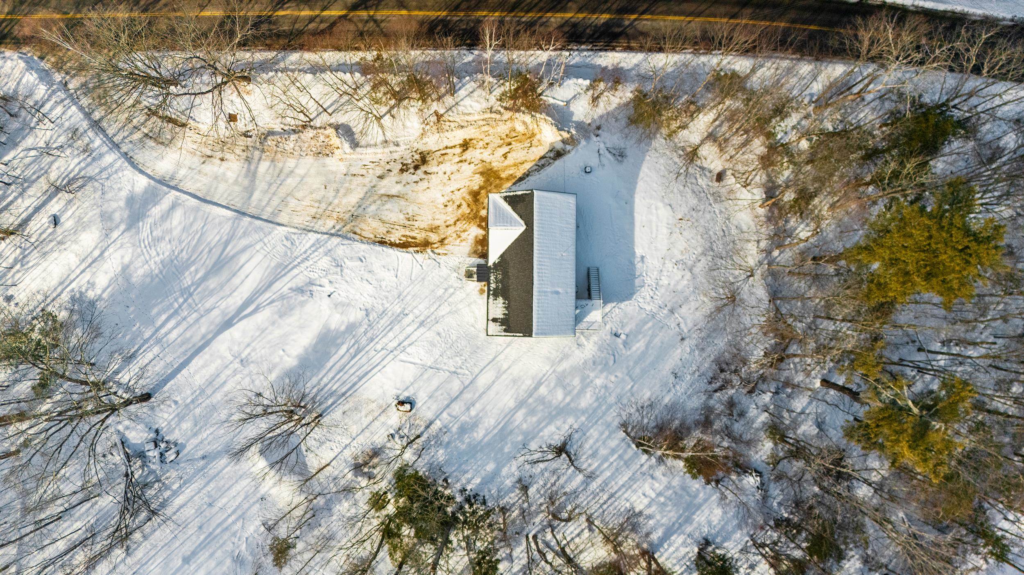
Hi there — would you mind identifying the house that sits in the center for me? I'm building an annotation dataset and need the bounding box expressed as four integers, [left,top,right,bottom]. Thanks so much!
[458,189,577,340]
